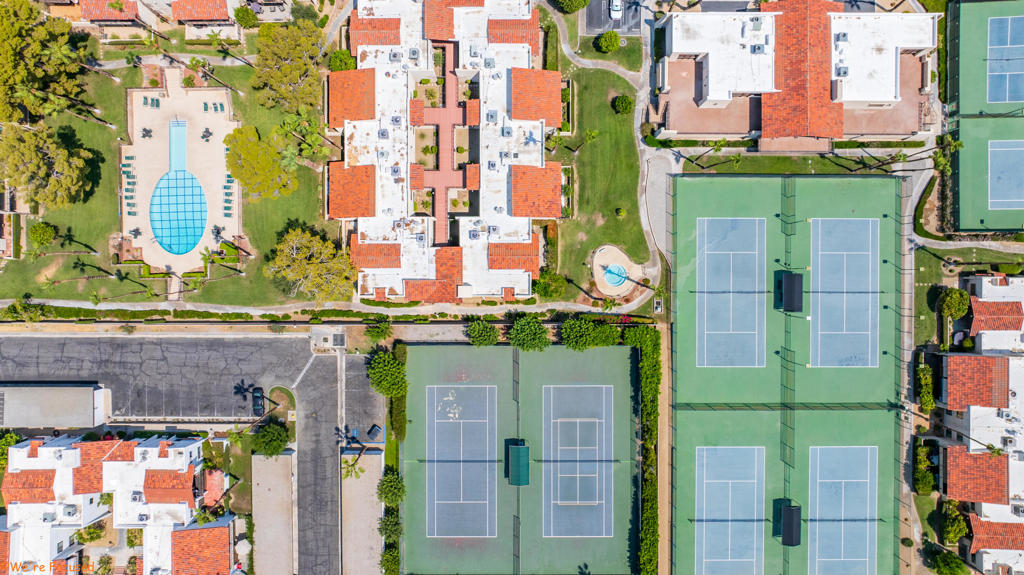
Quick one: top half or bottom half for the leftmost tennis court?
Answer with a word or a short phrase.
bottom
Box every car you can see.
[610,0,625,19]
[250,387,265,417]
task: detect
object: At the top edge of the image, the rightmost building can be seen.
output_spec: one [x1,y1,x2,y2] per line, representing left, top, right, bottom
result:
[648,0,942,153]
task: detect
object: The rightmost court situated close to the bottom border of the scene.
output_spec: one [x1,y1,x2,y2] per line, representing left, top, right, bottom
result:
[788,407,901,575]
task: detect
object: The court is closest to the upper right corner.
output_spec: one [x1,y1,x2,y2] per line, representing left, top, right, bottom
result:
[961,3,1024,118]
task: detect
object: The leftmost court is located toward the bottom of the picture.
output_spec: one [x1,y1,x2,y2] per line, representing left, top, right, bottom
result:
[402,346,516,574]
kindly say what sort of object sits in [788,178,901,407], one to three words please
tennis court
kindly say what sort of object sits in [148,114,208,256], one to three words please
swimming pool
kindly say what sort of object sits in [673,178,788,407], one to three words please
tennis court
